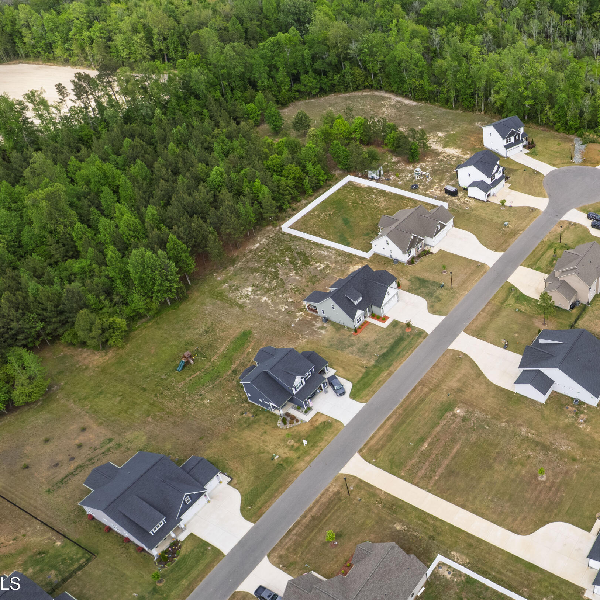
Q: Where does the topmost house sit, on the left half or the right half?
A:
right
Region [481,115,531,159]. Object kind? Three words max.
house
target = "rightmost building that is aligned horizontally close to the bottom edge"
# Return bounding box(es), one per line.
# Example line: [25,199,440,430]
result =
[282,539,431,600]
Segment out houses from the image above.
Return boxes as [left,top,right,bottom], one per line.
[371,204,455,264]
[514,328,600,408]
[282,539,431,600]
[304,265,400,329]
[0,571,78,600]
[78,451,224,557]
[450,150,511,202]
[481,115,531,159]
[544,241,600,310]
[239,346,329,416]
